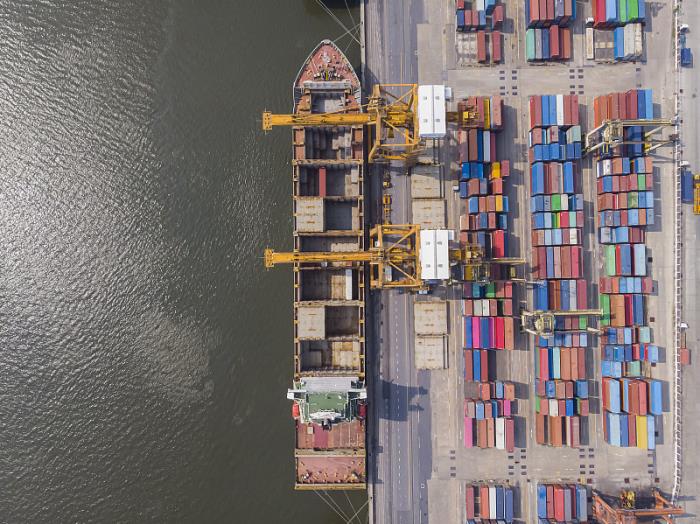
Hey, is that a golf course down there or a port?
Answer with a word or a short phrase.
port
